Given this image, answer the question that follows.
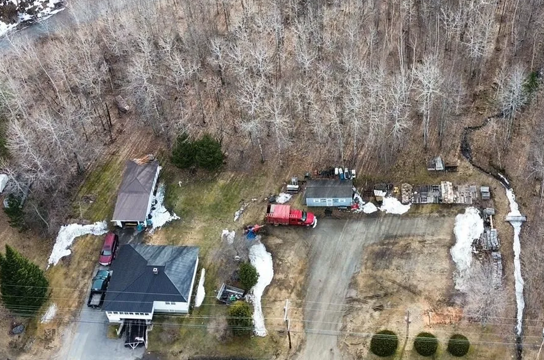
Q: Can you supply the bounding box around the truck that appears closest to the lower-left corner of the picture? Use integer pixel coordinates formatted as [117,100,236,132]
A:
[84,269,116,312]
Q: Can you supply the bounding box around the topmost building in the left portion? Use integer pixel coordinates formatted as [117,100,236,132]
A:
[109,155,160,230]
